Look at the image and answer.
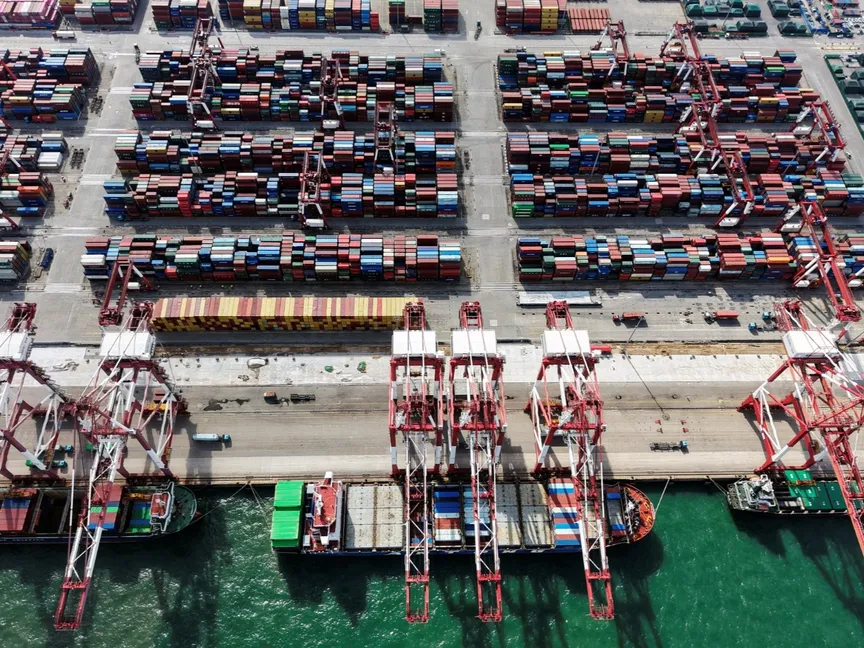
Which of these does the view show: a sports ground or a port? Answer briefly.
port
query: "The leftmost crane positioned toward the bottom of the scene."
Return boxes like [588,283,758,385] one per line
[0,302,83,494]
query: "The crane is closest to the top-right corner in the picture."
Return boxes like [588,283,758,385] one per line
[788,106,852,181]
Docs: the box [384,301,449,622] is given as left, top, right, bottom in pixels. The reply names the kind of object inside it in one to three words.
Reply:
container crane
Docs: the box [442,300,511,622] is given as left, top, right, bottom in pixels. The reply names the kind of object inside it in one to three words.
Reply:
container crane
